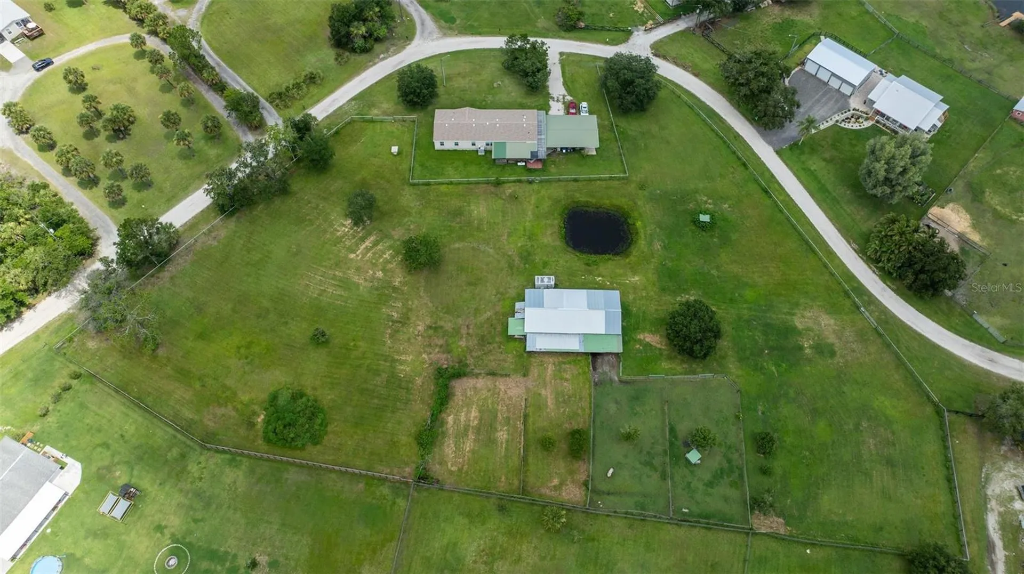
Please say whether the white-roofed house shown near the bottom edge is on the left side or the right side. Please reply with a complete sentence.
The white-roofed house shown near the bottom edge appears in the left half of the scene.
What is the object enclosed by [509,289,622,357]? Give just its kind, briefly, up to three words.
barn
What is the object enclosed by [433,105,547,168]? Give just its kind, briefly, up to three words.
house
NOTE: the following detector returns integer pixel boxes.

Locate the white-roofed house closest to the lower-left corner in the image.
[0,435,77,567]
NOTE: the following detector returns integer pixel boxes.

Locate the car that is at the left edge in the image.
[31,58,55,71]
